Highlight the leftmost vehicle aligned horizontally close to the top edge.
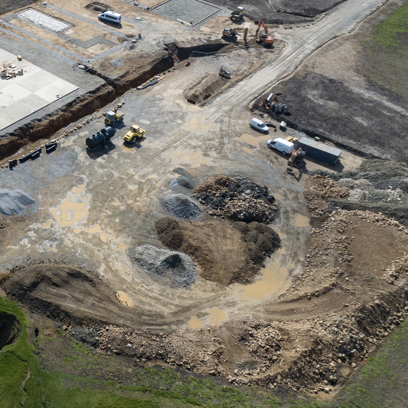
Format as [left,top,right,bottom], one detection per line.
[99,8,126,22]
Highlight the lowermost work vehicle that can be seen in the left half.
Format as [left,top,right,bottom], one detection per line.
[122,124,151,144]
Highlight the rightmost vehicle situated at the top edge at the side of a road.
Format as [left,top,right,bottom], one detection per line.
[251,8,279,48]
